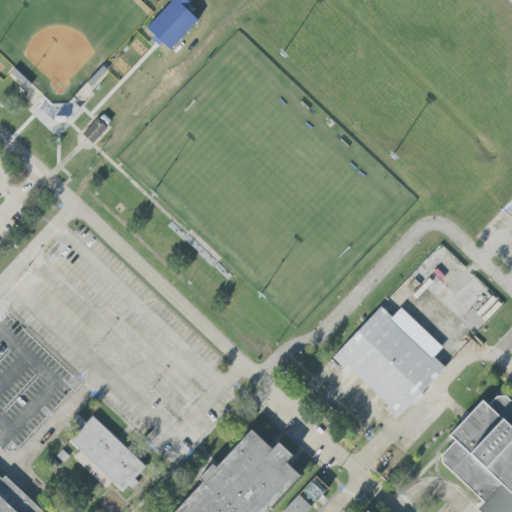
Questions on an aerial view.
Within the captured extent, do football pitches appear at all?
Yes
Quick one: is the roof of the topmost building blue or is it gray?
blue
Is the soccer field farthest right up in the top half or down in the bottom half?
top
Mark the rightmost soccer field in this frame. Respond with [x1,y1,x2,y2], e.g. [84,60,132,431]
[118,30,416,327]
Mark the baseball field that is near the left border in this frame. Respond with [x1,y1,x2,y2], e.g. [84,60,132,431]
[0,0,153,103]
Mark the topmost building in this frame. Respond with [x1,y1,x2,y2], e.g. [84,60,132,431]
[148,0,198,48]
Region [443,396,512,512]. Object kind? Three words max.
building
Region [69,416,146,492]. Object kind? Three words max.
building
